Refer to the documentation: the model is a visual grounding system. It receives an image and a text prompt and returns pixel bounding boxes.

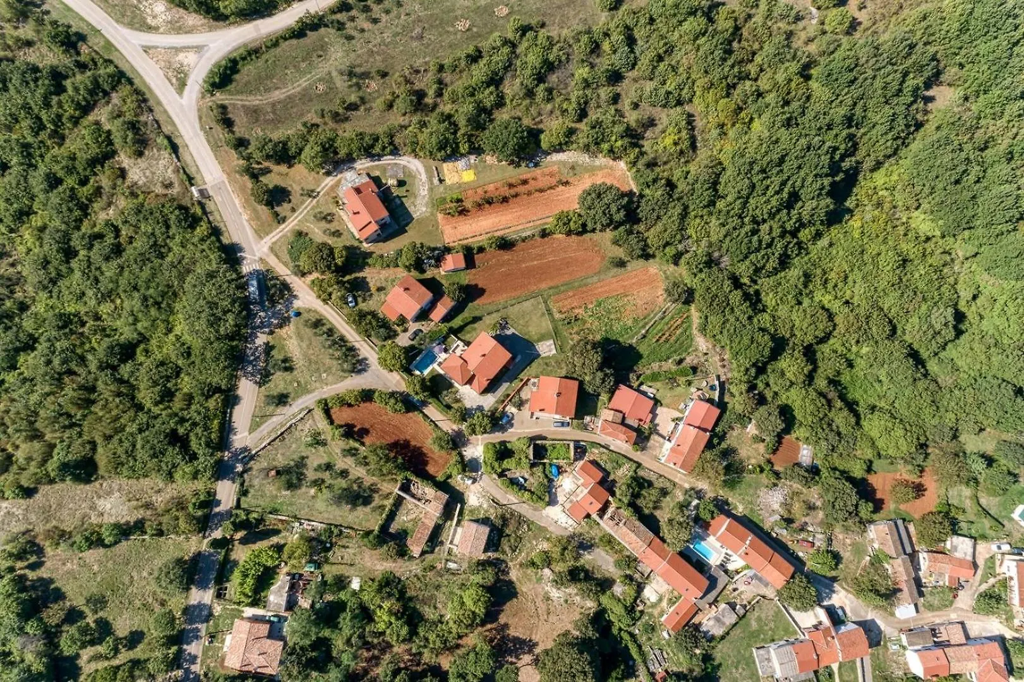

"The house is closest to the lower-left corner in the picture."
[223,615,288,675]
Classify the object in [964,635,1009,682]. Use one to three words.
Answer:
house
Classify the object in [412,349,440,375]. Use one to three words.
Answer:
swimming pool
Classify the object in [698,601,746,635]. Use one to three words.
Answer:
shed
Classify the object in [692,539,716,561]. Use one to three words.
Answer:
swimming pool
